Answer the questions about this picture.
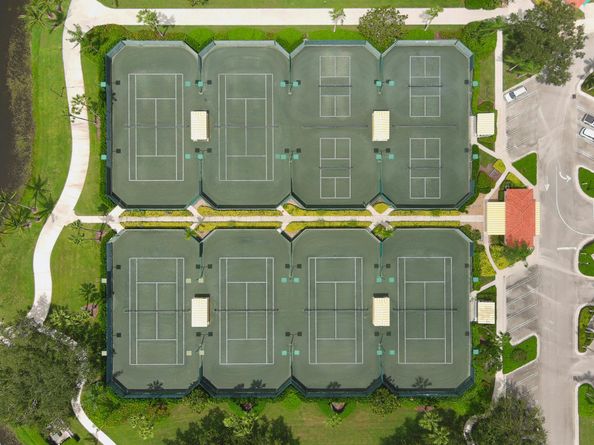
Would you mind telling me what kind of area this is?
sports ground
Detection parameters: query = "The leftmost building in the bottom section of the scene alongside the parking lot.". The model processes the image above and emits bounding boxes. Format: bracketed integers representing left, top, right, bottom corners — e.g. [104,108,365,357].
[475,301,494,324]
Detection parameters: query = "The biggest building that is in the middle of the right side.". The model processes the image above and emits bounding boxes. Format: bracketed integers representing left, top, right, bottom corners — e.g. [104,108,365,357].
[483,188,540,249]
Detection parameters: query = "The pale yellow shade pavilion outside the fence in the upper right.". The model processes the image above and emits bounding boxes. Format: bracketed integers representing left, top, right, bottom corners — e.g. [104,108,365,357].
[474,113,494,138]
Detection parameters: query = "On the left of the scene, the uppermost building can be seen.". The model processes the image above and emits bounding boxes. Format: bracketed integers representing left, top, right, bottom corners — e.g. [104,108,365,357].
[191,111,208,141]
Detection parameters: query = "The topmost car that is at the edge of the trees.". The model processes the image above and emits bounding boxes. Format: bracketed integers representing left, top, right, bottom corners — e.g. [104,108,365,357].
[501,85,528,103]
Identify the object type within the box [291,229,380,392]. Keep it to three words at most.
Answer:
tennis court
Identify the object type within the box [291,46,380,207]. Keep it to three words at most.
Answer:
sports court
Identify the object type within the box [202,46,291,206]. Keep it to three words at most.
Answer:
tennis court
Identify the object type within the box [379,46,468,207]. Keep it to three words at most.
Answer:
sports court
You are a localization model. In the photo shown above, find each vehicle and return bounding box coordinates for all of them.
[501,85,528,103]
[580,112,594,128]
[578,128,594,146]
